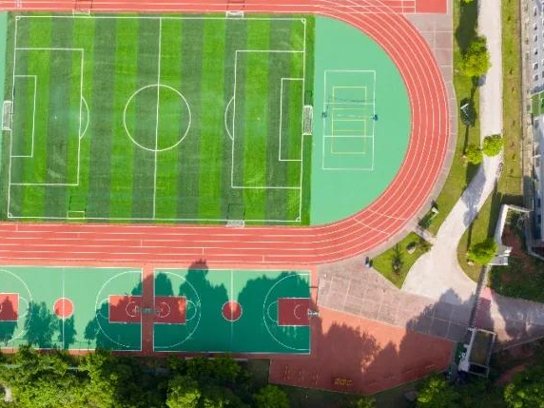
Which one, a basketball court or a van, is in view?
basketball court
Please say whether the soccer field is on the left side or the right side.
left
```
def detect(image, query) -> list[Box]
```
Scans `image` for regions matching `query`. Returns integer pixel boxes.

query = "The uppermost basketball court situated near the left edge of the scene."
[0,267,142,351]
